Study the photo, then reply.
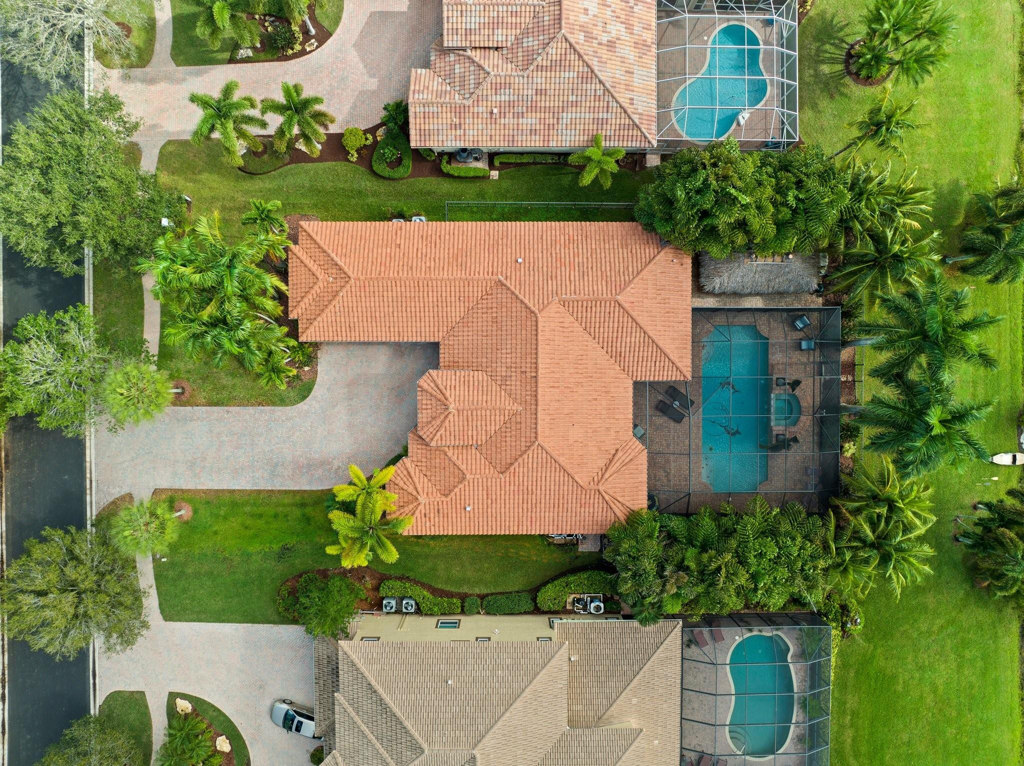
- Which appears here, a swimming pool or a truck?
swimming pool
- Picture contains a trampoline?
No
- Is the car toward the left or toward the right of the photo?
left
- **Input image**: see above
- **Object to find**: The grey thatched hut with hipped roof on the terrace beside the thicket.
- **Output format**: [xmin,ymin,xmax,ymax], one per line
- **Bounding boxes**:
[696,241,820,298]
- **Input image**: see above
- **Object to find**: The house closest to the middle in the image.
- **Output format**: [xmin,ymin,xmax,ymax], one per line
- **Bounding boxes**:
[287,220,693,536]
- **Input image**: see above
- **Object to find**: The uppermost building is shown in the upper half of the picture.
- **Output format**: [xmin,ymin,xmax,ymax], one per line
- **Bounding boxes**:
[407,0,658,155]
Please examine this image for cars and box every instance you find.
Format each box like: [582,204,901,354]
[267,700,323,745]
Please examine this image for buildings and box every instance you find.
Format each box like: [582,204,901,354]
[407,0,658,155]
[312,613,684,766]
[287,220,693,536]
[696,241,820,298]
